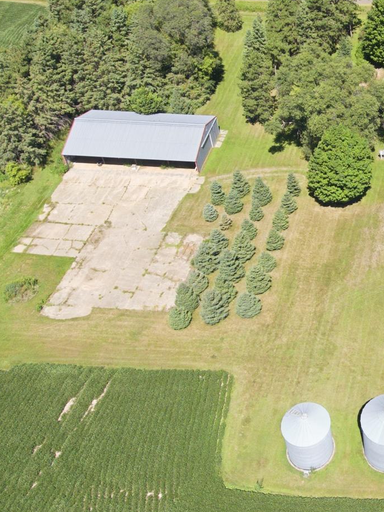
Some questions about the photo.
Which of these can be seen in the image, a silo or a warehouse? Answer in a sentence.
There is a silo in the scene.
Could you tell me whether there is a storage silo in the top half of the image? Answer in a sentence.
No, no storage silo appears in the top half of the image.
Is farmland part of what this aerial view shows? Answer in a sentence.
Yes, there's farmland in this view.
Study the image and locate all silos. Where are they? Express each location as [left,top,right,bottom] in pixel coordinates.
[284,402,338,476]
[362,395,384,473]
